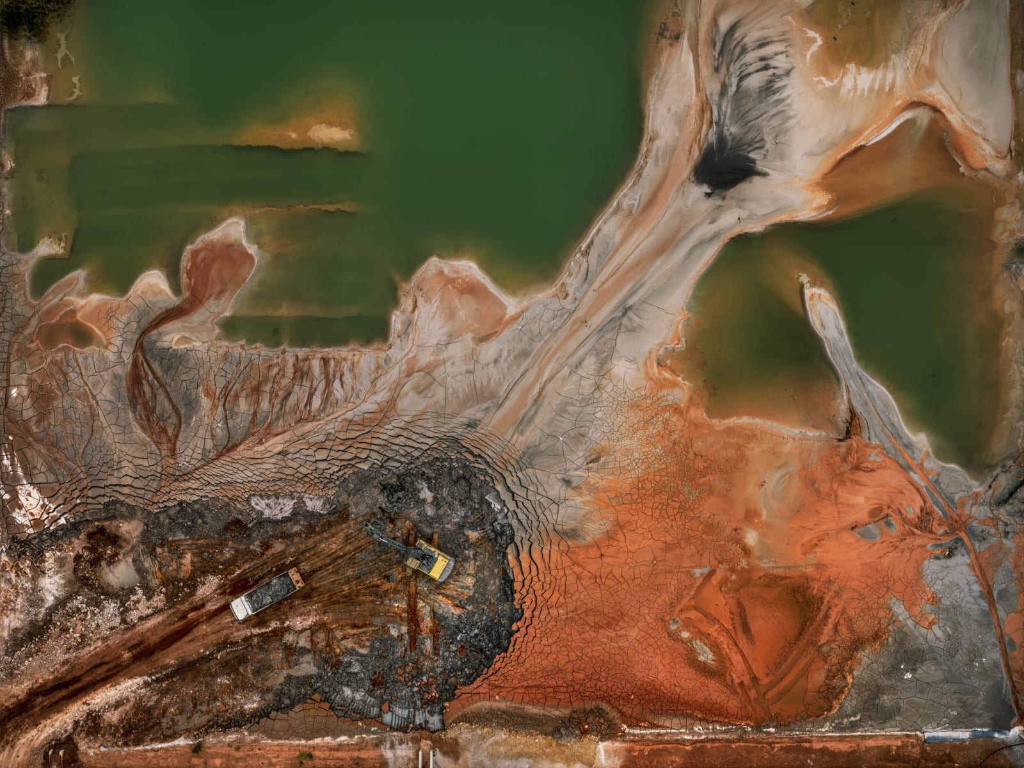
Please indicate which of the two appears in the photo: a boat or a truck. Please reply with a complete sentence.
Looking from above, you can make out a truck.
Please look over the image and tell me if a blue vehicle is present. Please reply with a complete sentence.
No, I can't see a single blue vehicle in this photo.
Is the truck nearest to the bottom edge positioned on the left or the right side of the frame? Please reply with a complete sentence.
The truck nearest to the bottom edge is on the left side of the image.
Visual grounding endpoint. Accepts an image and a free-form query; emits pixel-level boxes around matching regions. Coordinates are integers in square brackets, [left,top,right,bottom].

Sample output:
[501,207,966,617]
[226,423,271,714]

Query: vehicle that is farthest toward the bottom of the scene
[232,565,306,620]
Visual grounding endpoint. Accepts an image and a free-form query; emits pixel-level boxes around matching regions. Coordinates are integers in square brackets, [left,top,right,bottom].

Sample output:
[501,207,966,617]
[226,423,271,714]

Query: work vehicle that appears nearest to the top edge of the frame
[362,520,453,580]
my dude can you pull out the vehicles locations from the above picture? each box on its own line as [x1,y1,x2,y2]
[362,520,453,580]
[232,565,306,620]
